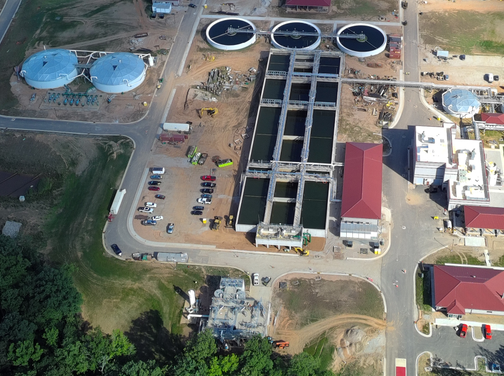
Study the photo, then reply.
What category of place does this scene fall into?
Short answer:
industrial area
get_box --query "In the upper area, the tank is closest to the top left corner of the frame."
[17,45,78,89]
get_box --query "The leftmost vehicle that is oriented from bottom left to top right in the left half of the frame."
[100,182,130,226]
